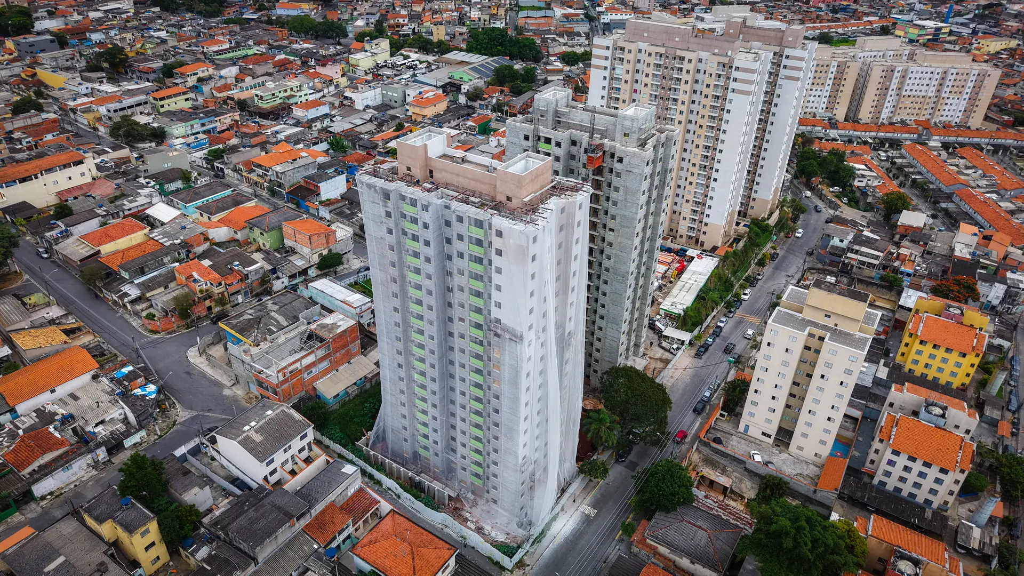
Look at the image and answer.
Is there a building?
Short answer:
Yes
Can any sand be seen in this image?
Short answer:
No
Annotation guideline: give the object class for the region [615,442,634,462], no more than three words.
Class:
car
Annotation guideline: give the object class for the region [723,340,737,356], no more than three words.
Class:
car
